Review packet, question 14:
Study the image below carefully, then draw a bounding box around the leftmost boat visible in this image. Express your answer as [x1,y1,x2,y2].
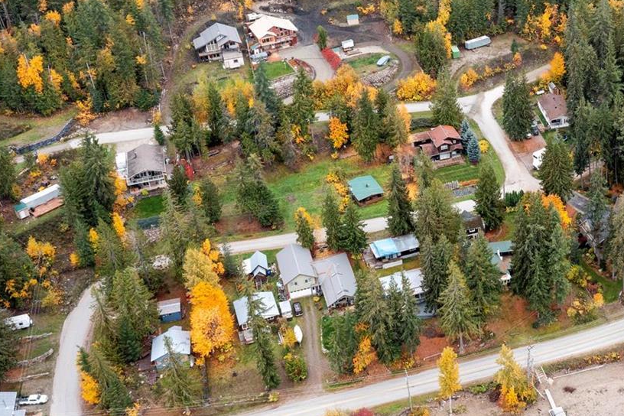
[289,318,302,339]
